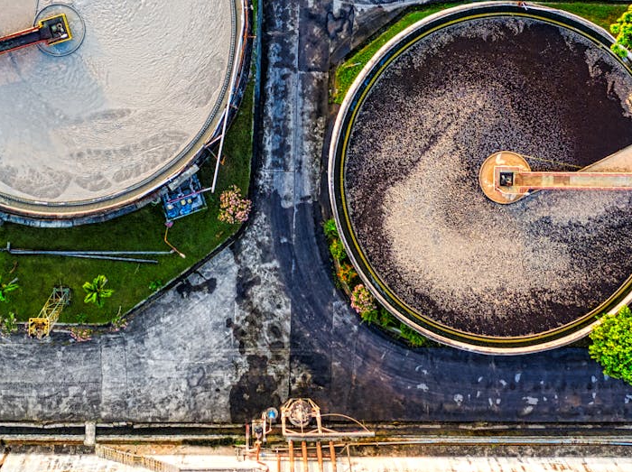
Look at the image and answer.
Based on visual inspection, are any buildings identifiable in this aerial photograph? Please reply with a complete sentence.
No, no building is visible in the scene.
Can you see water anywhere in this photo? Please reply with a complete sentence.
Yes, the picture does contain water.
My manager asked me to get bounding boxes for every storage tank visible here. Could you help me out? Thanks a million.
[0,0,248,216]
[328,1,632,355]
